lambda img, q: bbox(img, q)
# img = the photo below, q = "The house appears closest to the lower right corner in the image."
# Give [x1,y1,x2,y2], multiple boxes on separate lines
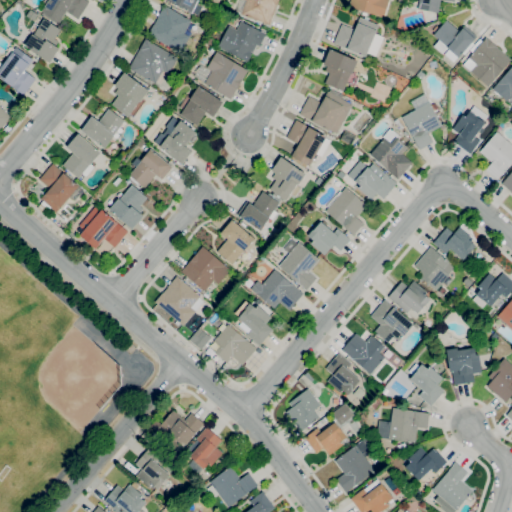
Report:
[433,463,475,512]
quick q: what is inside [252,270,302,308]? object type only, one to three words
house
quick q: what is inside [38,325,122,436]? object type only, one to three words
baseball field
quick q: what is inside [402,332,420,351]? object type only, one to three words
swimming pool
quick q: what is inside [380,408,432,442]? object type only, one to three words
house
